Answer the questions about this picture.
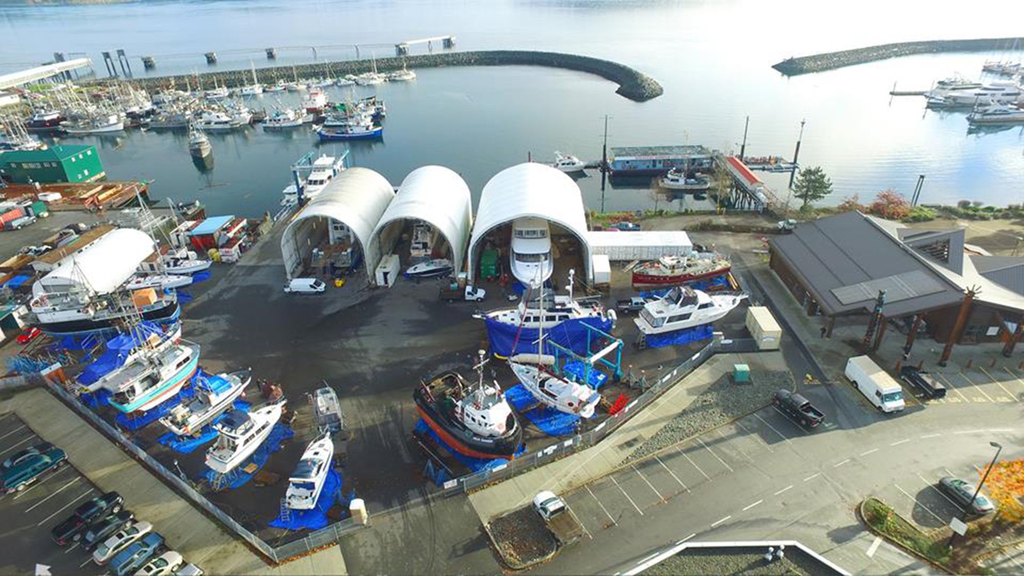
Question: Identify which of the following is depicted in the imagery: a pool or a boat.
boat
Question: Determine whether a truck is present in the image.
Yes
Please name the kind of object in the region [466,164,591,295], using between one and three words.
shed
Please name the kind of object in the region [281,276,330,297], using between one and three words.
vehicle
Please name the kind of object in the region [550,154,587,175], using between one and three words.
boat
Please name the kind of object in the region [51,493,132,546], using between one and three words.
truck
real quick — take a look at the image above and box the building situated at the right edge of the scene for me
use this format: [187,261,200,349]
[769,209,1024,354]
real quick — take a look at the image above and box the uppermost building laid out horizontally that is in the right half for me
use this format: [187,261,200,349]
[606,142,719,177]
